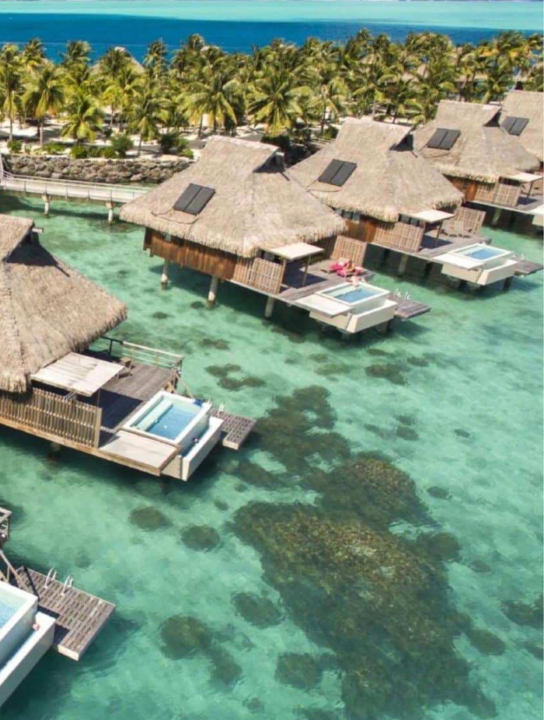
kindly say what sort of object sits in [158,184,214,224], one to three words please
solar panel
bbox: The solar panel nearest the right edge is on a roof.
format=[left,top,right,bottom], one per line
[499,119,523,139]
